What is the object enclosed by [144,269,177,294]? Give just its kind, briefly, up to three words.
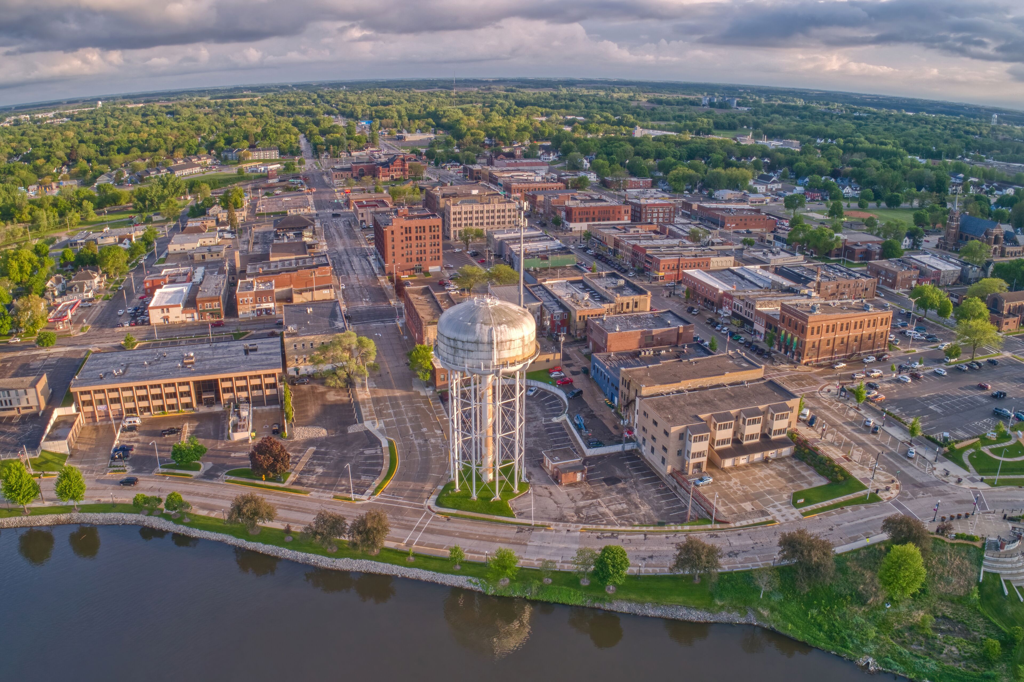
building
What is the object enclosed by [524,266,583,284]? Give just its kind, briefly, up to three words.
building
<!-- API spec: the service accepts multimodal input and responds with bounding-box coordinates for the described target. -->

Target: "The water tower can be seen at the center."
[433,294,540,499]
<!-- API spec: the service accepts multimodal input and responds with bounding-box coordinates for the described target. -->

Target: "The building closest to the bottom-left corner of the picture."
[42,413,81,452]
